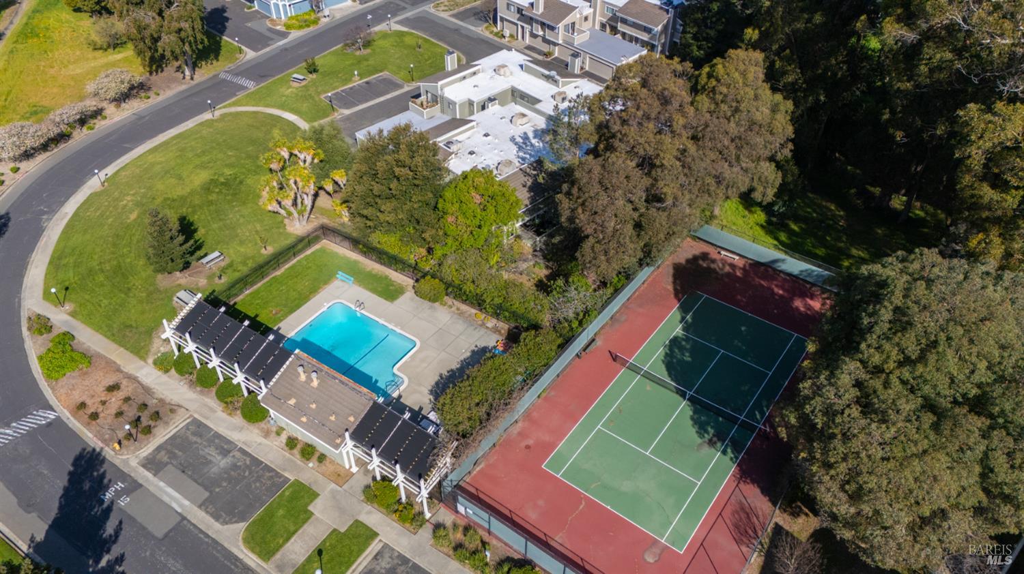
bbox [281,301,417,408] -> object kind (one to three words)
swimming pool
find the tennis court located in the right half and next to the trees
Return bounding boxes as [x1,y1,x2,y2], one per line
[450,242,867,574]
